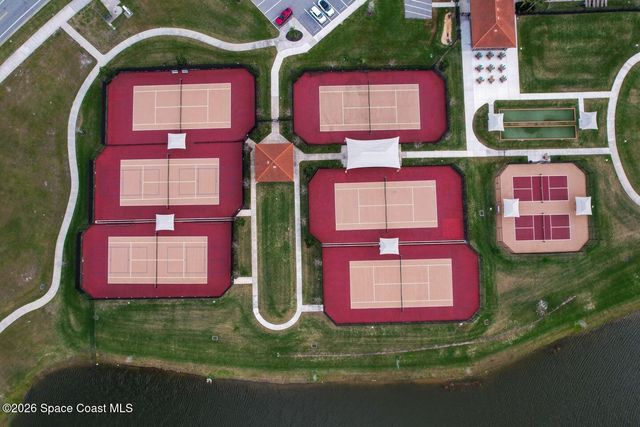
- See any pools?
No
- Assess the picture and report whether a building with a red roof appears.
Yes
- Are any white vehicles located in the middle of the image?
No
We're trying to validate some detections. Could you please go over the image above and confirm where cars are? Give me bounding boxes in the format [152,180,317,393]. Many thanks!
[275,7,294,26]
[318,0,336,18]
[309,6,328,25]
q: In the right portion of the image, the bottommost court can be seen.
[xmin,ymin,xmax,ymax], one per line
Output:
[322,242,480,323]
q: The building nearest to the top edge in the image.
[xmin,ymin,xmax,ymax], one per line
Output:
[468,0,516,53]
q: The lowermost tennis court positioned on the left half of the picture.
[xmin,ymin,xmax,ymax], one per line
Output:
[82,221,233,298]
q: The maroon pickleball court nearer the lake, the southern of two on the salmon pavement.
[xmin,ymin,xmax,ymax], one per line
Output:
[512,213,572,243]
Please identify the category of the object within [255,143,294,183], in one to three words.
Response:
building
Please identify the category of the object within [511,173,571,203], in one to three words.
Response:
sports court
